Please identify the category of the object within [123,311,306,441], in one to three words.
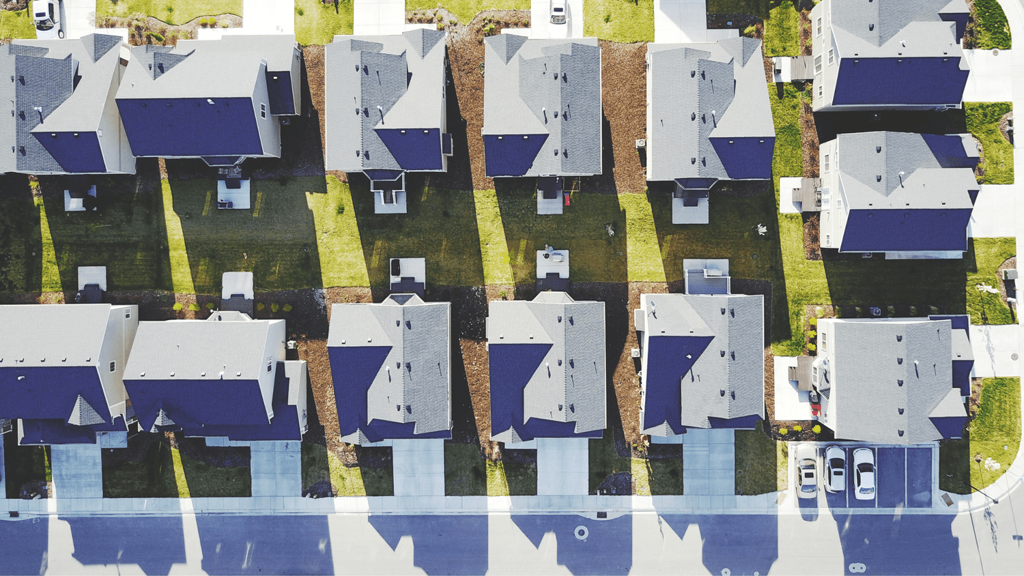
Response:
house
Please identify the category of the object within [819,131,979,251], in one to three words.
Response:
house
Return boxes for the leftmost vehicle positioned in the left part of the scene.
[32,0,61,37]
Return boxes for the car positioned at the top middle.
[546,0,571,38]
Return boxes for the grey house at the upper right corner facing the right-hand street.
[812,0,970,111]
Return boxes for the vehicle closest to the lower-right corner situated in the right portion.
[853,448,879,500]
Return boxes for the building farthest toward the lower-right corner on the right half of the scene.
[812,314,974,446]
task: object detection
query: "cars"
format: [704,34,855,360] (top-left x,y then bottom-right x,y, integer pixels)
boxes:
[546,0,571,38]
[32,0,61,37]
[825,446,850,493]
[796,445,822,498]
[853,448,879,500]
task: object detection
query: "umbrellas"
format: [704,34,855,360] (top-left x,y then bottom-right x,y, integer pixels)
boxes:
[82,195,106,211]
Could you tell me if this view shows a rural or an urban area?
urban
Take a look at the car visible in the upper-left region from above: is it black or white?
white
